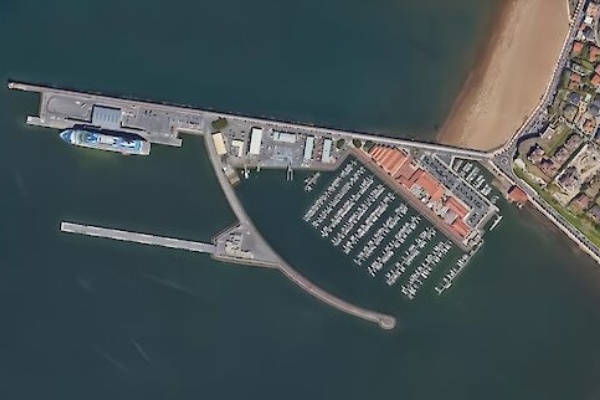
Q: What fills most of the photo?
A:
water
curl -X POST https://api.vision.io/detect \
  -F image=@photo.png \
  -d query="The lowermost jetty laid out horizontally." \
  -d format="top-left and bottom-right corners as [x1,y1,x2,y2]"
[61,223,219,253]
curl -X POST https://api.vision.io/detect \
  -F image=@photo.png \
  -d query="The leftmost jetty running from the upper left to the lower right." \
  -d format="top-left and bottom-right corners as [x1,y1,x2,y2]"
[204,133,396,330]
